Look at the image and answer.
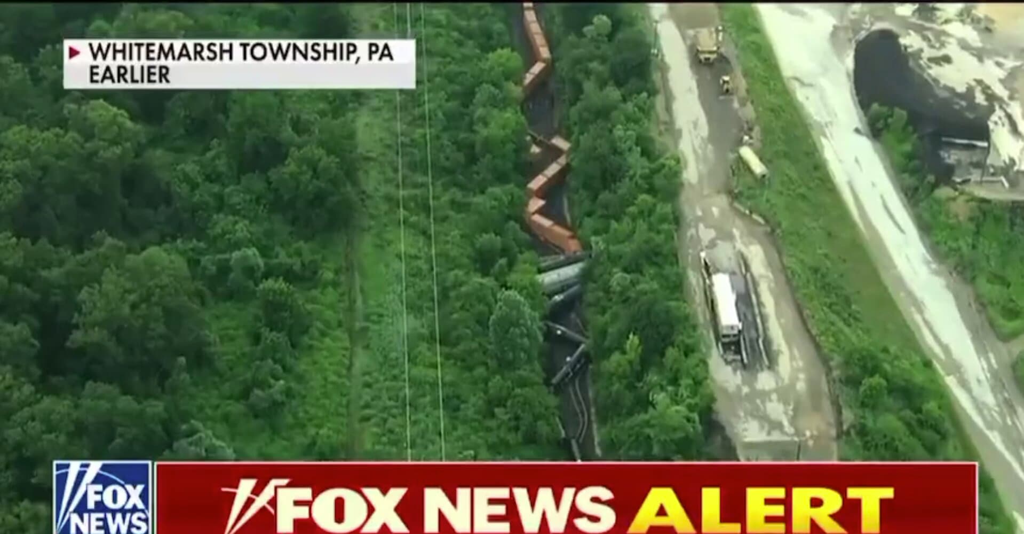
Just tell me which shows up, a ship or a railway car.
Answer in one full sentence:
This aerial view contains a railway car.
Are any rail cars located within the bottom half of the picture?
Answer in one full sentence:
Yes, I can see a rail car within the bottom half of the picture.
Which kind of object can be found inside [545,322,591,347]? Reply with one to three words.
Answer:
rail car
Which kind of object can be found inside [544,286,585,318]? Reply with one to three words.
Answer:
rail car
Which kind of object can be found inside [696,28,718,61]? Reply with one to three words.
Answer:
truck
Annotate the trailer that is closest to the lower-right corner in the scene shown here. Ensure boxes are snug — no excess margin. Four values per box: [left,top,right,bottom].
[711,273,739,337]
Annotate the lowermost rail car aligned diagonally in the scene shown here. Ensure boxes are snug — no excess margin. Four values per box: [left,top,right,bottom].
[553,346,594,390]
